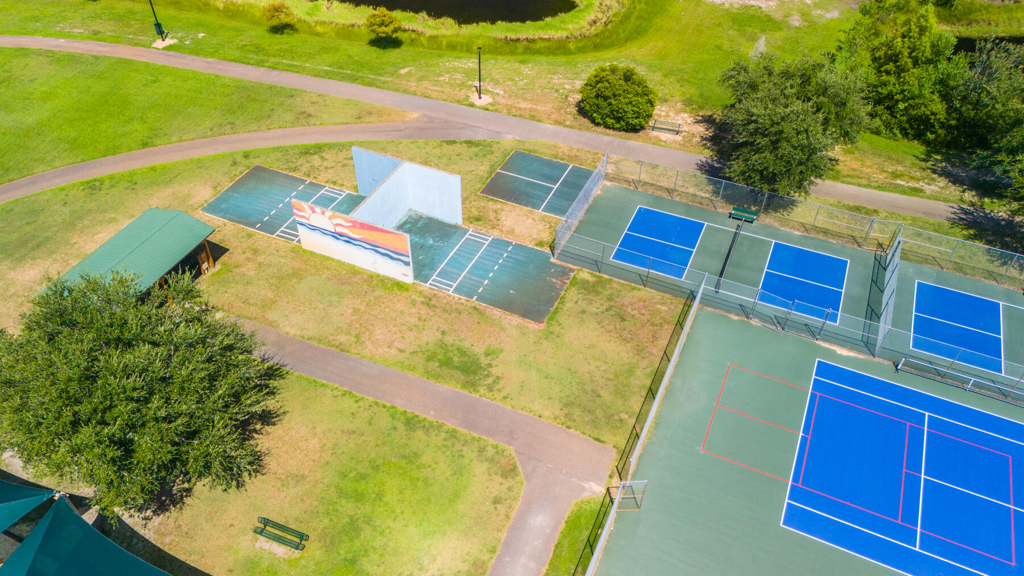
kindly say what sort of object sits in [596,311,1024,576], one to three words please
tennis court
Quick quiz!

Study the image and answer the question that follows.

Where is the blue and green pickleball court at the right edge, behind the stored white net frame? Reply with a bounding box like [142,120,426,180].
[874,257,1024,404]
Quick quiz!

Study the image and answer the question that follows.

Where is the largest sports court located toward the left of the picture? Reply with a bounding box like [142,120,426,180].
[200,165,575,324]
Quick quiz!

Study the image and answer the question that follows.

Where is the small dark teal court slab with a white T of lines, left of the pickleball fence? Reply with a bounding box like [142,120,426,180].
[479,150,609,223]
